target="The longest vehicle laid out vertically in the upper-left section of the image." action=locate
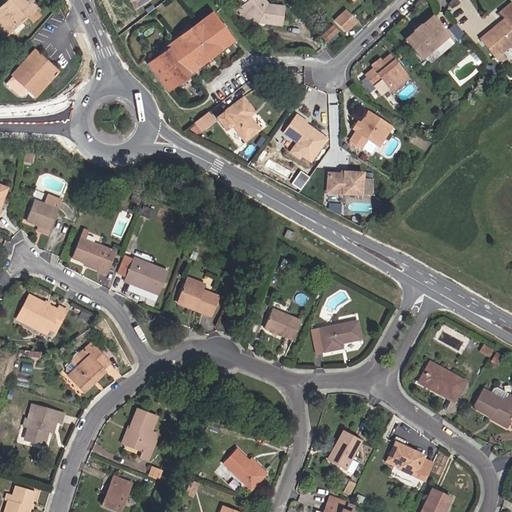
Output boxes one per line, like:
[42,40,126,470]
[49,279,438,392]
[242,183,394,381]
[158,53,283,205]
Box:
[132,91,146,122]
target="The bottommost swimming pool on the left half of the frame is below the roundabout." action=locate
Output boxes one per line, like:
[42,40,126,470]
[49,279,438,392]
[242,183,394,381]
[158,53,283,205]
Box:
[111,210,131,239]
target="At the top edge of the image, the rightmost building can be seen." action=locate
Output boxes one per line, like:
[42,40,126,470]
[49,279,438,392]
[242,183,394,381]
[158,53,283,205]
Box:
[480,3,512,62]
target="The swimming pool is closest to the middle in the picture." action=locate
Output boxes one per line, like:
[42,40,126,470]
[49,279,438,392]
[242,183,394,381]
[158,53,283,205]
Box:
[294,292,308,306]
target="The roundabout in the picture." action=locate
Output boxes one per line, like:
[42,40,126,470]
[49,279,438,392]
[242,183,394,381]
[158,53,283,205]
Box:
[88,94,138,146]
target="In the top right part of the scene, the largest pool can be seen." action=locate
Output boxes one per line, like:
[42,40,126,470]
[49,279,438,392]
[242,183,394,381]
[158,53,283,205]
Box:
[448,53,482,86]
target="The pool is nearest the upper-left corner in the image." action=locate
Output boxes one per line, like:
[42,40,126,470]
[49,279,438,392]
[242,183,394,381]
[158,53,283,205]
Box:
[36,174,68,197]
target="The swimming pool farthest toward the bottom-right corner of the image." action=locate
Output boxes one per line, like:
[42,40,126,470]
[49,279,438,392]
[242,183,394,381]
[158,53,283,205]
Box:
[434,325,470,354]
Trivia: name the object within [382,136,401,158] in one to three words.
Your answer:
swimming pool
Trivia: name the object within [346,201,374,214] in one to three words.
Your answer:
swimming pool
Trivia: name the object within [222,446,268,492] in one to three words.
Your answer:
house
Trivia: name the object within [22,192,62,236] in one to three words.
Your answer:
house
